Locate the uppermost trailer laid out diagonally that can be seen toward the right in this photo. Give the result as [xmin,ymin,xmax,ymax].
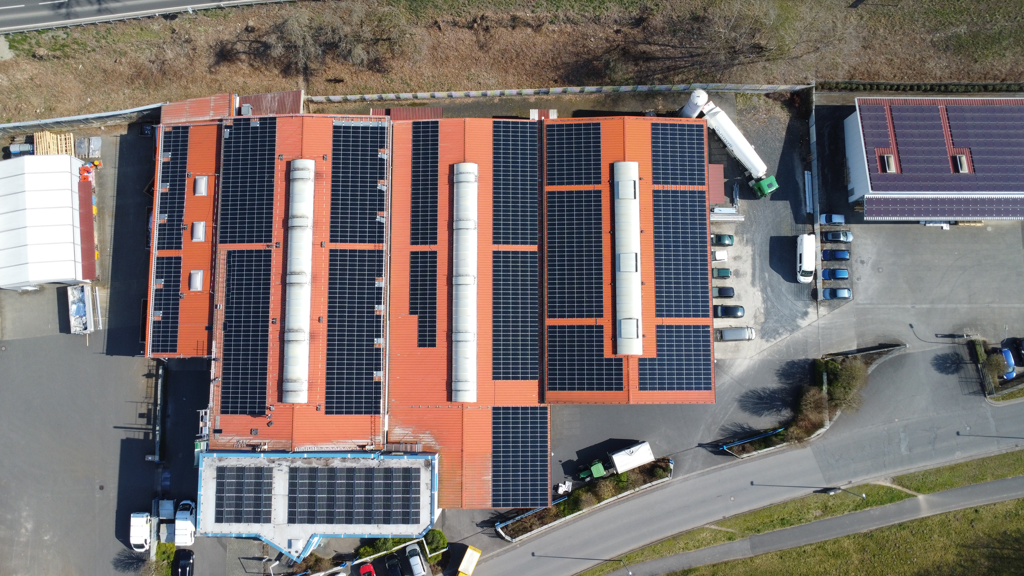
[700,97,768,182]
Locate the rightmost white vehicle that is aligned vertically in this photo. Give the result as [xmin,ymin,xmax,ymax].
[796,235,816,283]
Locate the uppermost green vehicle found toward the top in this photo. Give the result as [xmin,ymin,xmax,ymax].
[742,171,778,199]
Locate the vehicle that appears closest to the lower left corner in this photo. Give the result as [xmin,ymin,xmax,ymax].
[130,509,152,552]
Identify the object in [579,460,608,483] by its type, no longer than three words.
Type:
work vehicle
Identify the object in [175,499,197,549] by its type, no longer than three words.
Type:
vehicle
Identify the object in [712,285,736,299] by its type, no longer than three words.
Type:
car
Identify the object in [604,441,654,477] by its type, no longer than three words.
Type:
trailer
